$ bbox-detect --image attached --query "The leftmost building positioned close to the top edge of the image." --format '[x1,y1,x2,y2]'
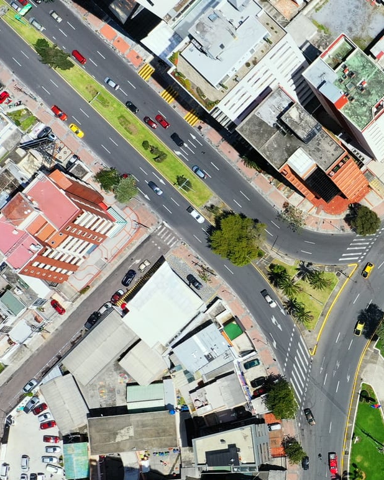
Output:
[87,0,160,60]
